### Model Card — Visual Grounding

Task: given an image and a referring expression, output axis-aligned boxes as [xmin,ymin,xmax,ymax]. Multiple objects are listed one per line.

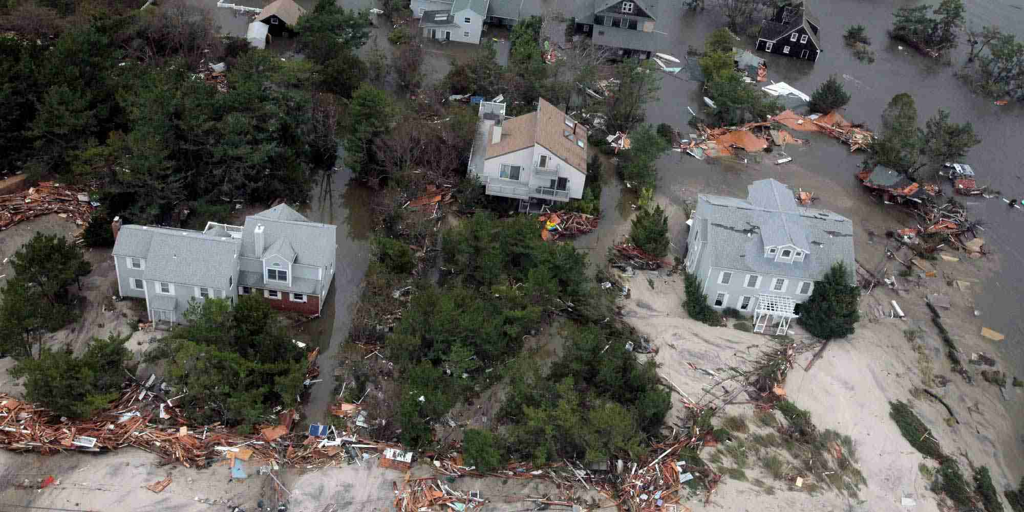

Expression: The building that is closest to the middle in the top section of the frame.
[468,96,590,222]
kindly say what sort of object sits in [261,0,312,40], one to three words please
house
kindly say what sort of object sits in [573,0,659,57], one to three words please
house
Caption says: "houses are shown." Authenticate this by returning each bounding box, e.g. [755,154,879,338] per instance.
[573,0,659,57]
[468,96,590,222]
[687,176,860,333]
[756,2,821,61]
[261,0,312,40]
[108,191,340,334]
[414,0,548,43]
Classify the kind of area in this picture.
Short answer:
residential area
